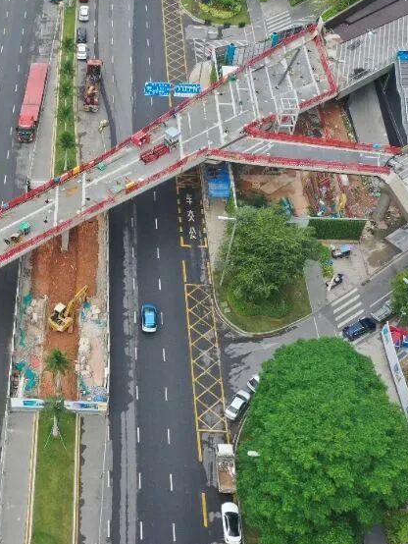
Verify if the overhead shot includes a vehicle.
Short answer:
Yes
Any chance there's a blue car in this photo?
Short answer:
Yes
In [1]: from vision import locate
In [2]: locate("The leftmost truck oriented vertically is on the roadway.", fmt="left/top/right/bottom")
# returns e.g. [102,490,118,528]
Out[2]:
[17,62,45,146]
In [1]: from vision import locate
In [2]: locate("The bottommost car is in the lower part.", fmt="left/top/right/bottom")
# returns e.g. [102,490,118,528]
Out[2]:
[218,502,243,544]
